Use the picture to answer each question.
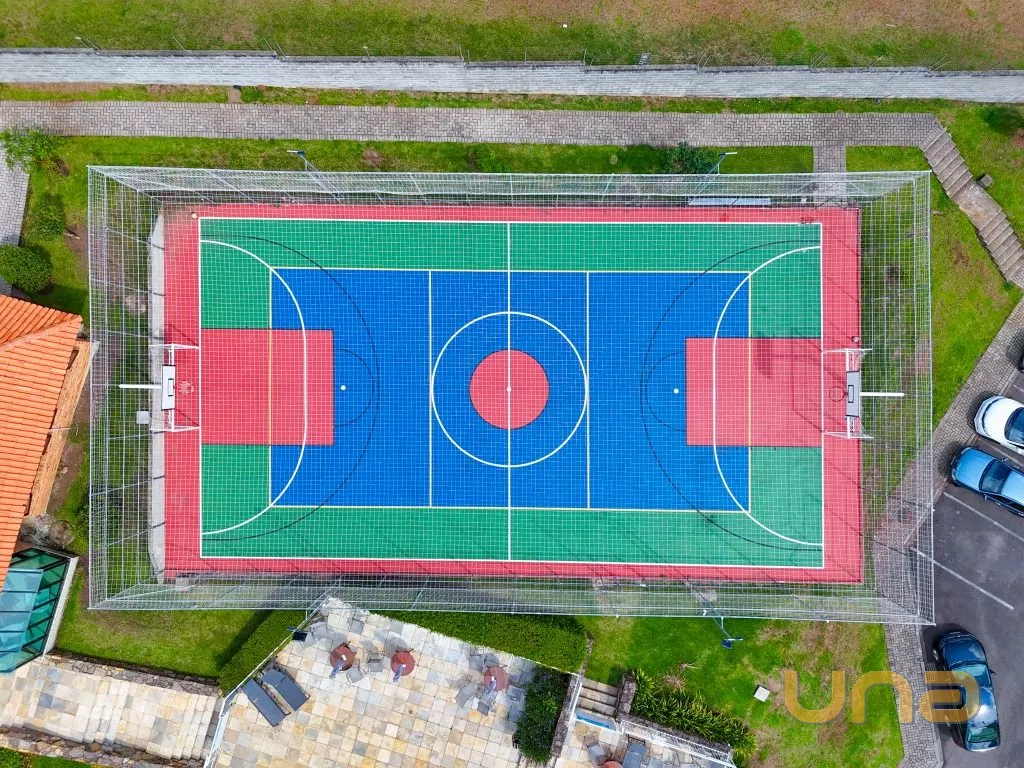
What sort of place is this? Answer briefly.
sports ground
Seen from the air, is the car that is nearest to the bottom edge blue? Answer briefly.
Yes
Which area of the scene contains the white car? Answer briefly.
right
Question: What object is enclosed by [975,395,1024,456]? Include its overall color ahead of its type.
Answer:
white car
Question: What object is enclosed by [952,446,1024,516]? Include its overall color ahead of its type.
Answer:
blue car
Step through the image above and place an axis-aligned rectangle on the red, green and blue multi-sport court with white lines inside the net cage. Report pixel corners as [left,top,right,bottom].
[164,204,862,583]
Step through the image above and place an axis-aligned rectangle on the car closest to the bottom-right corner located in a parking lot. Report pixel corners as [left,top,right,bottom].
[932,631,1002,752]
